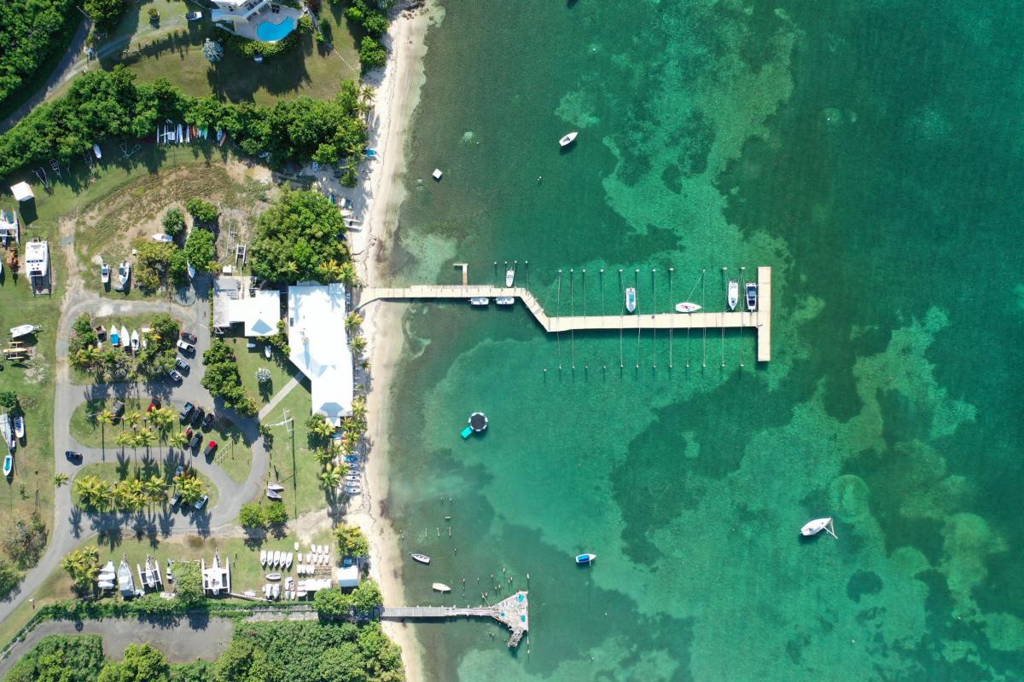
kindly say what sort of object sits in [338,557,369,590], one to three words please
shed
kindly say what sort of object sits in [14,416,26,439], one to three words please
boat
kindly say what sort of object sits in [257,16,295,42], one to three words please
swimming pool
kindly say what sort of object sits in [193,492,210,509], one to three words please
vehicle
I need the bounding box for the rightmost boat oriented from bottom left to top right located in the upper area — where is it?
[560,133,577,146]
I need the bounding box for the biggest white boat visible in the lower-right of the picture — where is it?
[799,519,832,538]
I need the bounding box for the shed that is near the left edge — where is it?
[11,182,40,202]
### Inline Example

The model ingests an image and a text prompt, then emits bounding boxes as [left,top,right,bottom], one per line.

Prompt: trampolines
[461,412,488,437]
